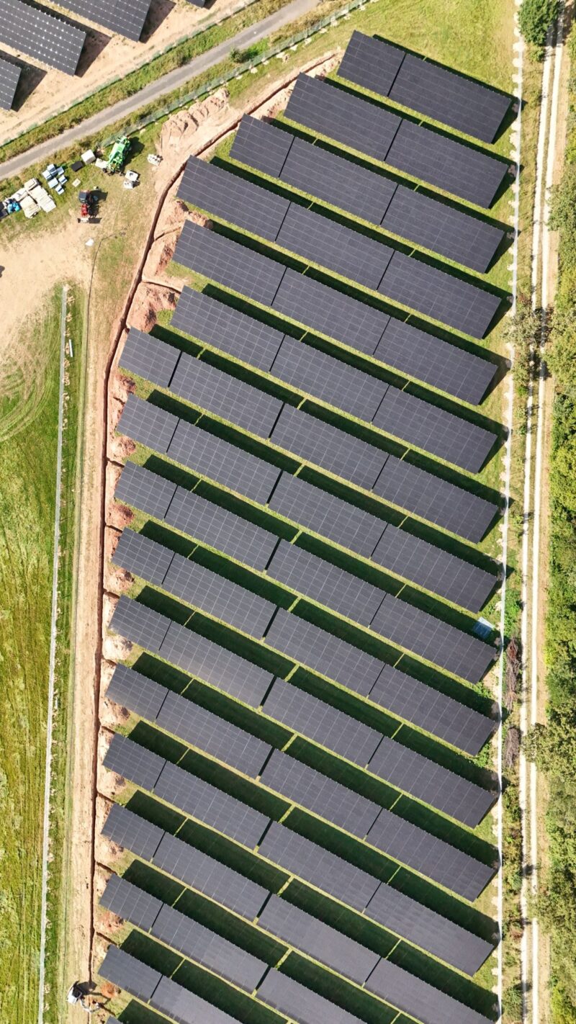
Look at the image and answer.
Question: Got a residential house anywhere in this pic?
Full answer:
No, the scene contains no residential house.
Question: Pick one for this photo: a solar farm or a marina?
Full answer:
The picture captures a solar farm.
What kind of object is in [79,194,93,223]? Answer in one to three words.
work vehicle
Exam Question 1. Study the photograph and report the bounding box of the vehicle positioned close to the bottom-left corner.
[64,979,103,1014]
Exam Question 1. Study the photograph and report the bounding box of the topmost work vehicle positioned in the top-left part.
[102,139,126,183]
